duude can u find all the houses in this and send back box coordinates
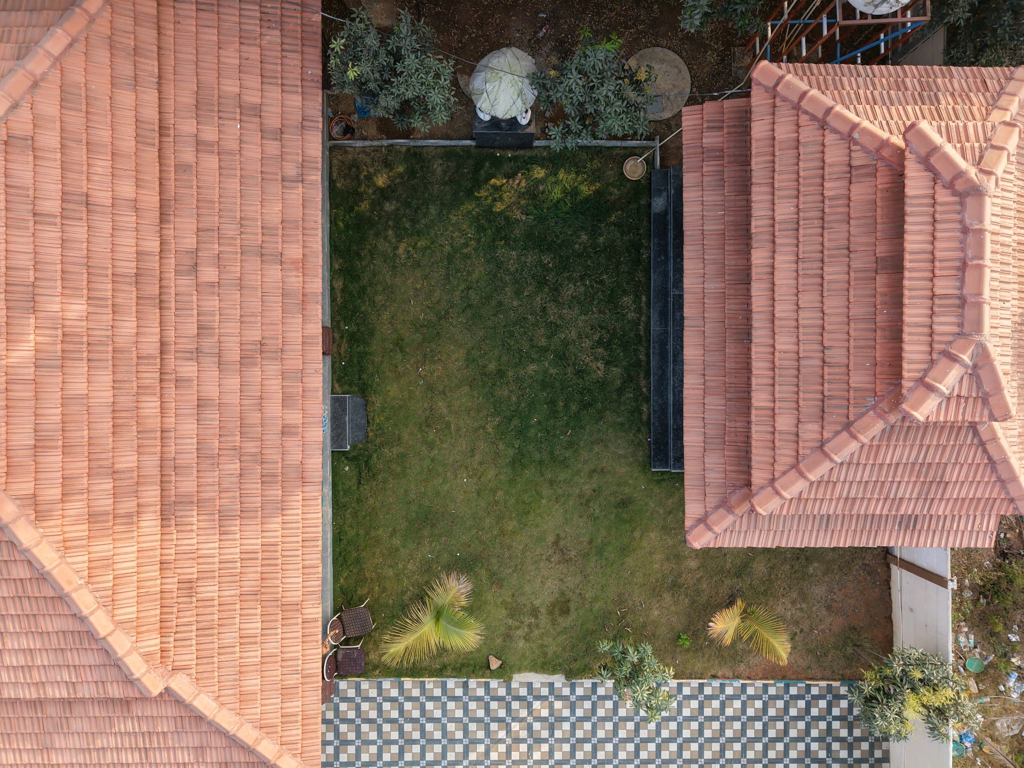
[0,0,324,768]
[674,50,1024,559]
